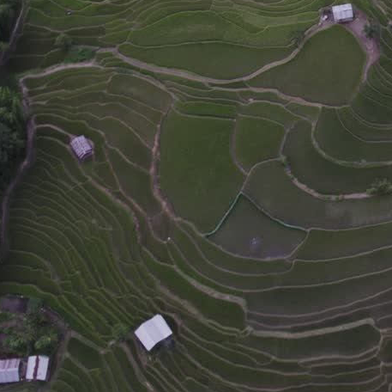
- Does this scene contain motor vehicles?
No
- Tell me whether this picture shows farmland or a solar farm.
farmland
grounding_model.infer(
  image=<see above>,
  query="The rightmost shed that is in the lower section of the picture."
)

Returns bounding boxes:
[135,314,175,353]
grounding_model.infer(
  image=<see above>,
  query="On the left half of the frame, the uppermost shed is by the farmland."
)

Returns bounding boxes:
[70,135,97,160]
